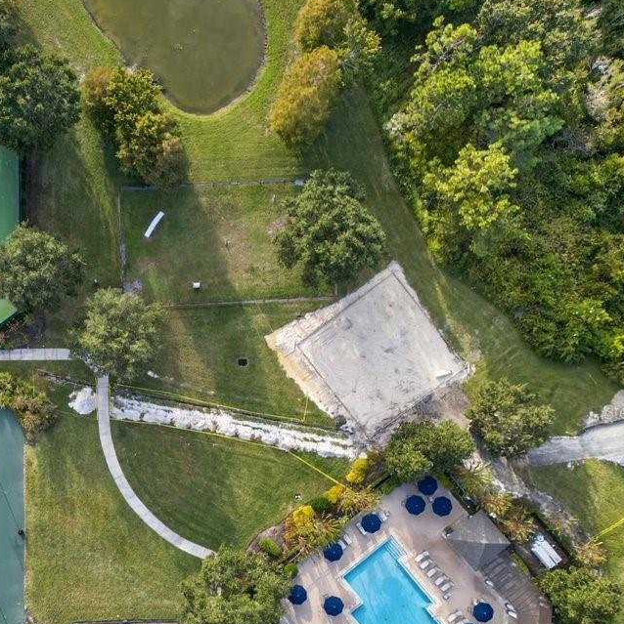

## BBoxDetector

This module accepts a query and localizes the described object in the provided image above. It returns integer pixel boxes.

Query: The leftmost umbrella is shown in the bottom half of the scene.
[287,585,307,605]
